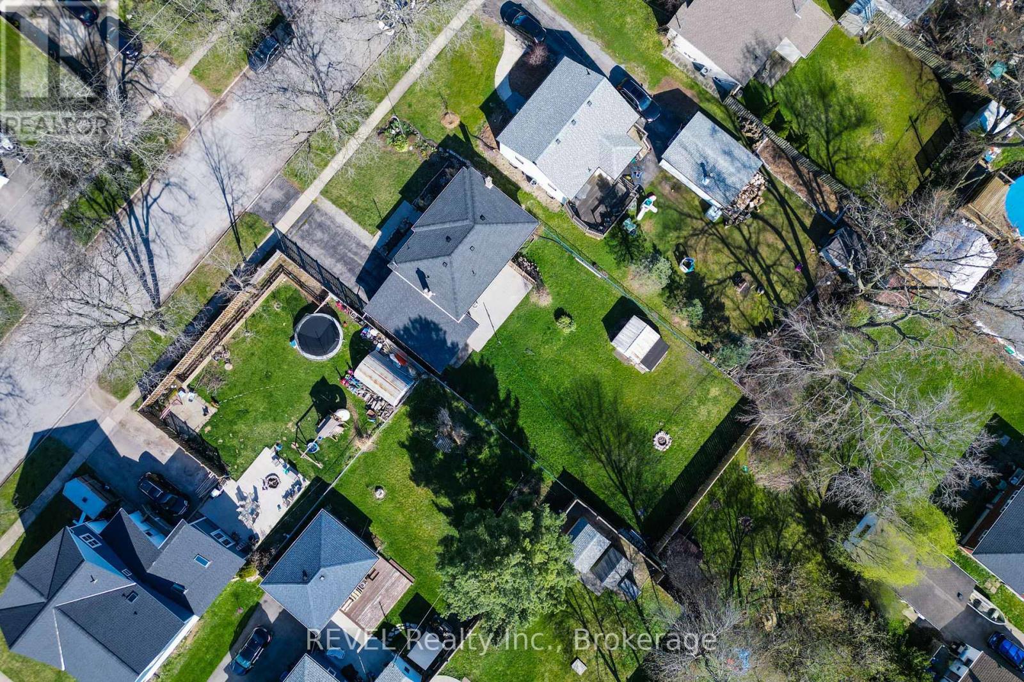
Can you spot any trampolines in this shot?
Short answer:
Yes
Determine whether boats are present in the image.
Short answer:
Yes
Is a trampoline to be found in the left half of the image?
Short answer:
Yes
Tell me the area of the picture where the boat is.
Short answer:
bottom right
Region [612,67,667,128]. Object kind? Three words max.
car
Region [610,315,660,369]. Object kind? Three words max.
shed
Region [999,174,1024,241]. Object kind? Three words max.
swimming pool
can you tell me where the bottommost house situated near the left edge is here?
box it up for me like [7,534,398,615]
[0,504,254,682]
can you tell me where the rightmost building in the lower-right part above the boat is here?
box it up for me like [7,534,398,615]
[951,485,1024,602]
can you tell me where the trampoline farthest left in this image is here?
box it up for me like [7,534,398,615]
[282,309,342,362]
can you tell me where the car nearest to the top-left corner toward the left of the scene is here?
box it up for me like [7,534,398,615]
[55,0,97,28]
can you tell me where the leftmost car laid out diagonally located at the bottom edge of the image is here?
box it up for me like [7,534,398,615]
[223,622,274,682]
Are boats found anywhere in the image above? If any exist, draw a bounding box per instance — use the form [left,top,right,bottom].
[967,591,1020,636]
